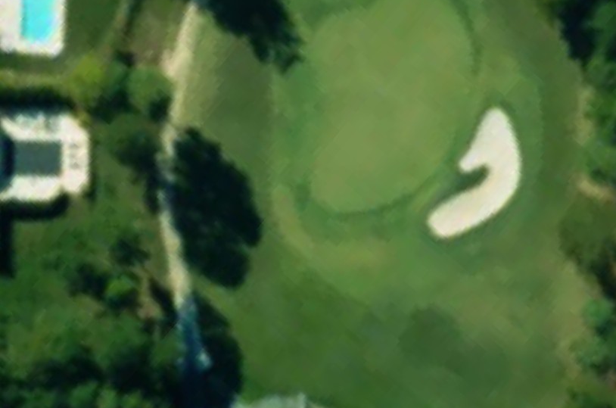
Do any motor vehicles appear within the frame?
No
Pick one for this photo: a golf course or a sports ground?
golf course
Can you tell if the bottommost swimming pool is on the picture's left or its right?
left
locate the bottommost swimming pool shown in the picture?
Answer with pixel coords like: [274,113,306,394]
[0,110,90,201]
